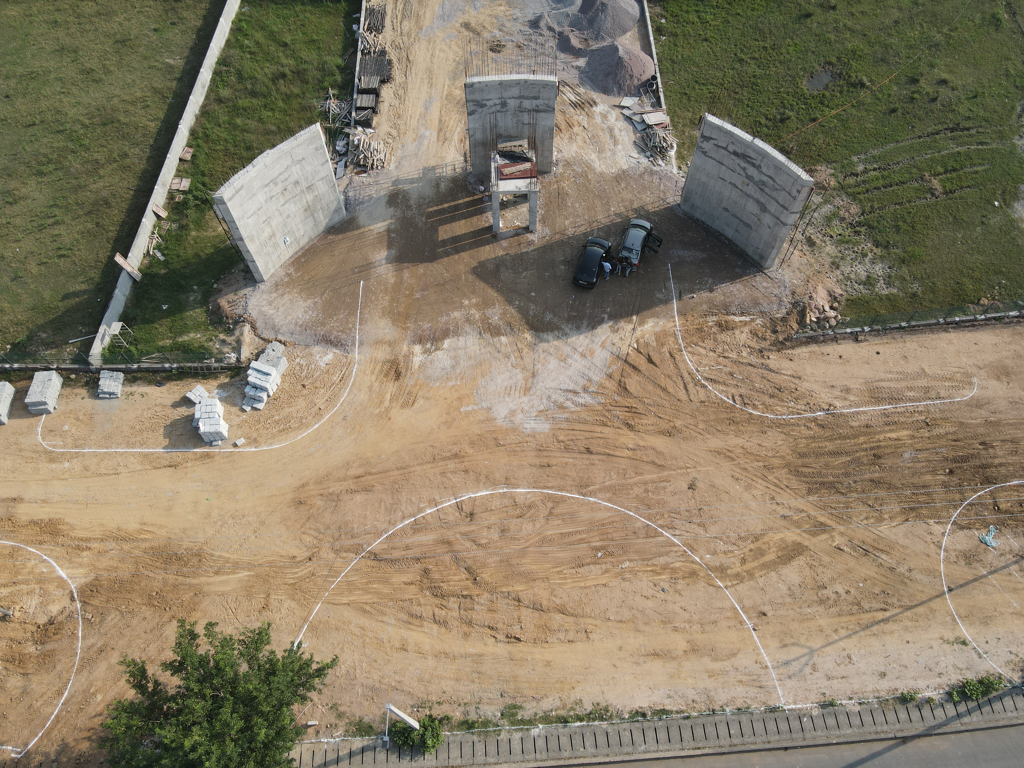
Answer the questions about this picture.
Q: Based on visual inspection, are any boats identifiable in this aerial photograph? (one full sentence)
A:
No, there's no boat here.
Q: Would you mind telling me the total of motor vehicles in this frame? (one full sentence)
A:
My tally gives 2 motor vehicles in this view.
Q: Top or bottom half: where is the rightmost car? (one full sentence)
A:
The rightmost car sits in the top half of the picture.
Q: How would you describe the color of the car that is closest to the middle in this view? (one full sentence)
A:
The car that is closest to the middle is black.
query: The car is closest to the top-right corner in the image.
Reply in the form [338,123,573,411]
[618,217,665,272]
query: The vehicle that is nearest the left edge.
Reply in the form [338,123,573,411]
[571,234,618,290]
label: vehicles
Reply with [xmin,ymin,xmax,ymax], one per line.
[571,234,618,290]
[618,217,665,272]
